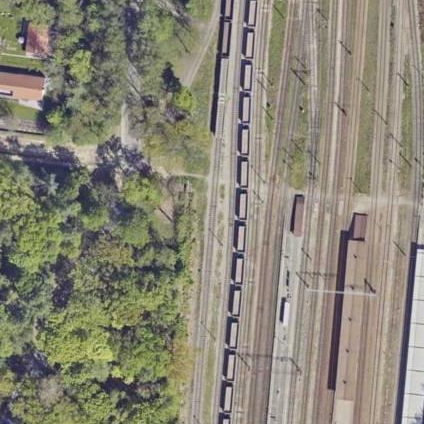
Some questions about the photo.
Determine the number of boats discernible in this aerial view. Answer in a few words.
none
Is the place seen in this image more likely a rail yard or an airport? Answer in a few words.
rail yard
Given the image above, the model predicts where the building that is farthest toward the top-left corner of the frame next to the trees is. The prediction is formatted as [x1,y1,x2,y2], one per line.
[25,23,51,56]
